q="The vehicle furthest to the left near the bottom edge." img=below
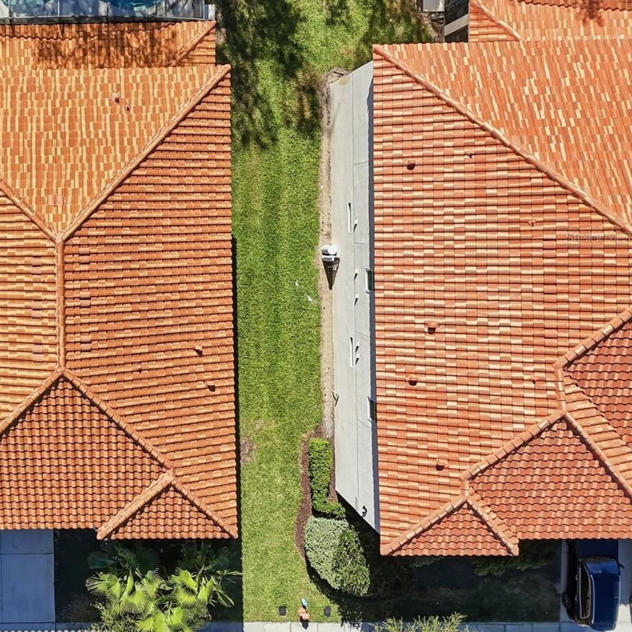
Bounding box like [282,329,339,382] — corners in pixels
[564,540,629,631]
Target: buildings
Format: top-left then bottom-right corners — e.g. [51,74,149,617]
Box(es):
[0,17,243,546]
[329,0,632,559]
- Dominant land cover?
buildings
